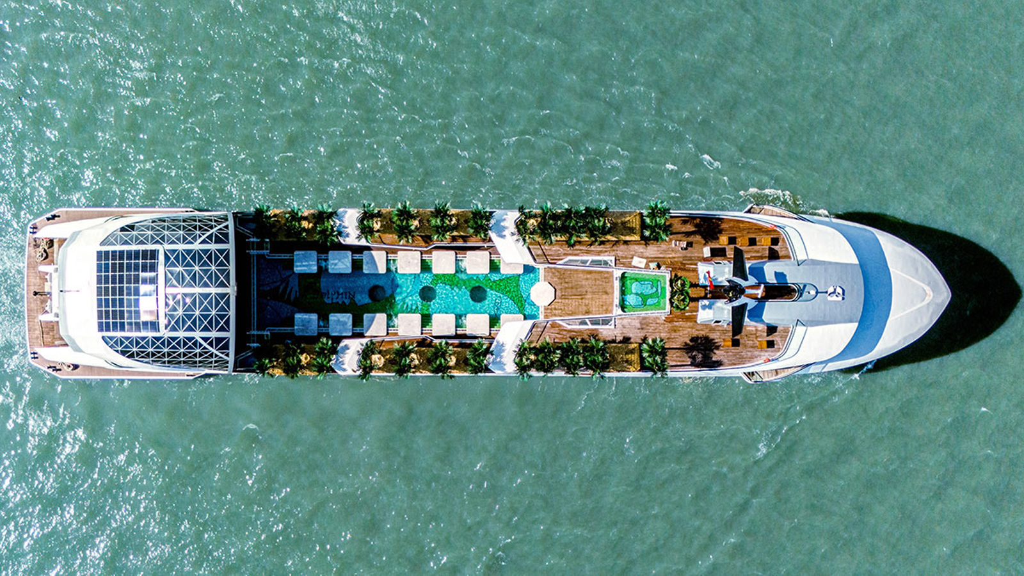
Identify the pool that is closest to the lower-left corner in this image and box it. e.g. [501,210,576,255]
[257,254,544,333]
